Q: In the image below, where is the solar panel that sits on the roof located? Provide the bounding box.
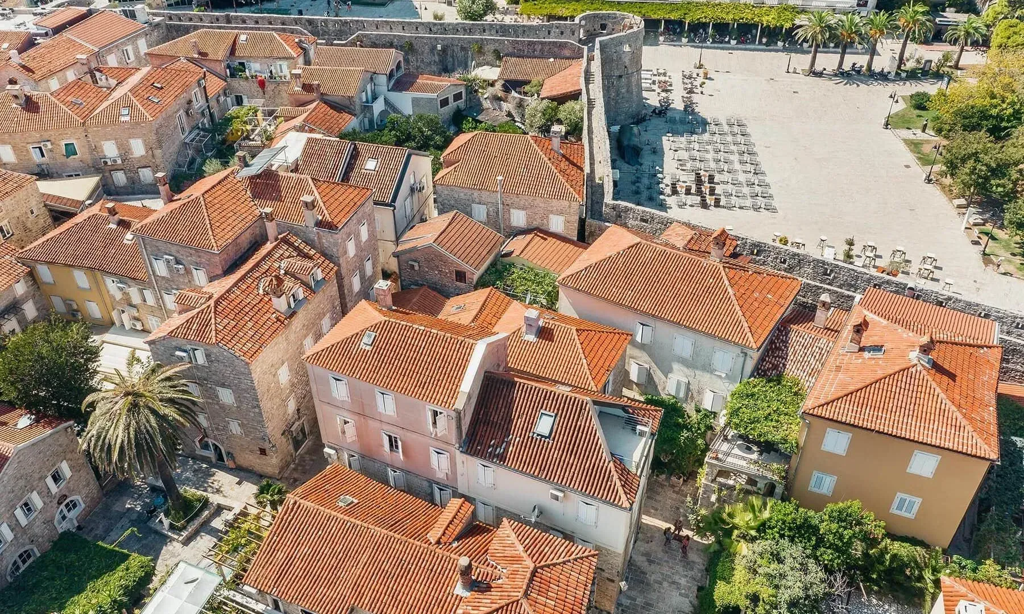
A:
[235,144,293,193]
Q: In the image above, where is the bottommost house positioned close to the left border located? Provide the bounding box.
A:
[0,389,102,574]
